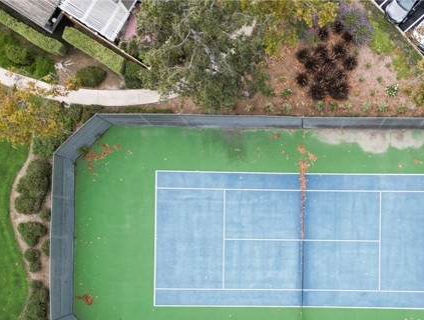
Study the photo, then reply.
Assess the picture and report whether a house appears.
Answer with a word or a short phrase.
No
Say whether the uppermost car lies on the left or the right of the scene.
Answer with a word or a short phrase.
right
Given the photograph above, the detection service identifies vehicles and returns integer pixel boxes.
[385,0,424,24]
[410,16,424,52]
